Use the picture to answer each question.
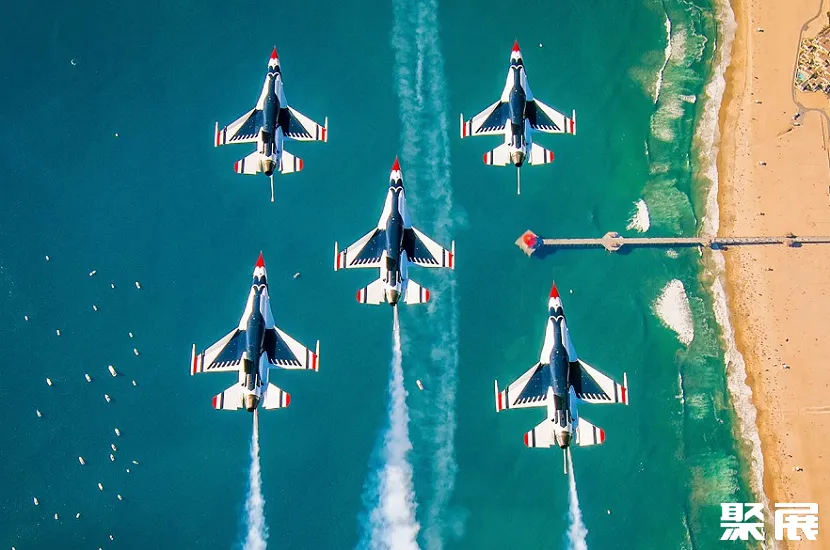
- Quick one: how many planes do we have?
5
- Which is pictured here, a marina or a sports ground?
marina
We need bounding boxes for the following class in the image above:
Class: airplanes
[335,159,453,328]
[461,45,575,194]
[214,48,327,200]
[496,282,627,473]
[191,252,318,435]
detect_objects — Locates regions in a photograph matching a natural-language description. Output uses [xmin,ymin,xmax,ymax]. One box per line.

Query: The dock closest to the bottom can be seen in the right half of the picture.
[516,229,830,256]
